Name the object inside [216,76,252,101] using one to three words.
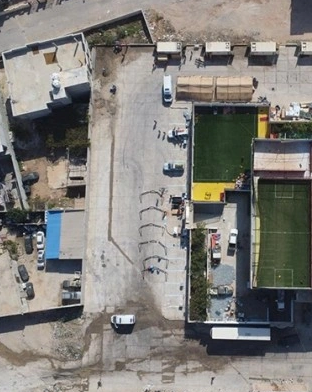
tent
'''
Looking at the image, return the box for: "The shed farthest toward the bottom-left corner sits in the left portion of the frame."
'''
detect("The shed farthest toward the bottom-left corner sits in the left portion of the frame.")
[45,209,85,259]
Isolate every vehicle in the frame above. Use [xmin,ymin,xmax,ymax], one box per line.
[111,314,135,325]
[25,281,35,300]
[23,181,31,195]
[210,325,271,341]
[162,75,172,103]
[22,172,41,182]
[35,250,45,268]
[162,162,184,172]
[23,235,33,254]
[60,279,74,288]
[210,231,221,263]
[227,227,237,251]
[167,129,189,139]
[17,263,30,283]
[35,230,45,250]
[61,291,82,301]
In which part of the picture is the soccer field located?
right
